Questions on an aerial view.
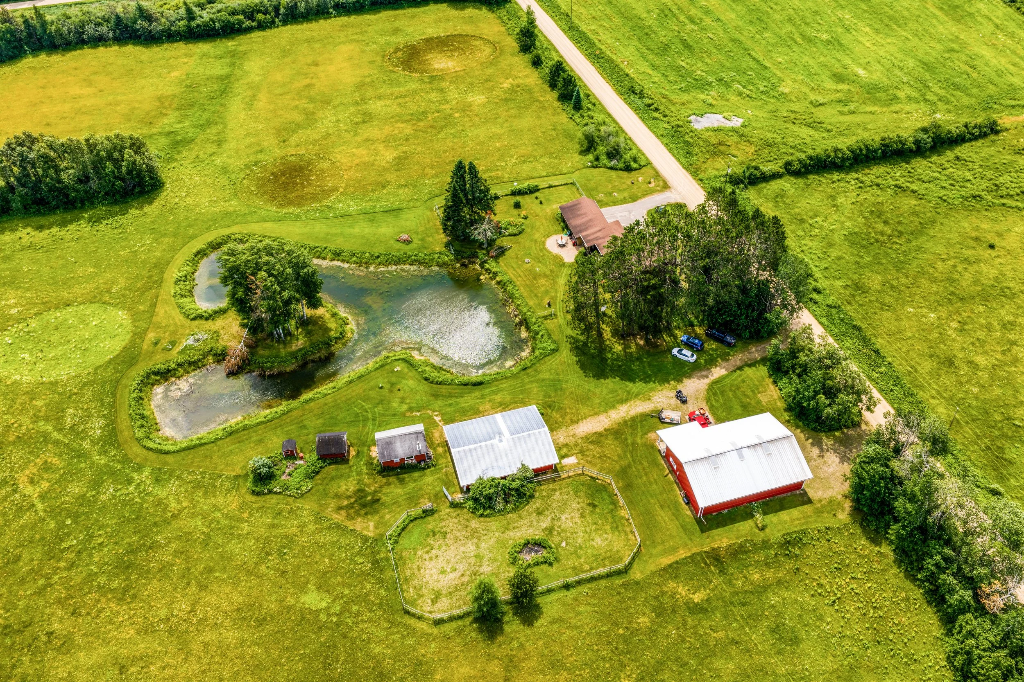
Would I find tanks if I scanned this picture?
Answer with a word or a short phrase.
No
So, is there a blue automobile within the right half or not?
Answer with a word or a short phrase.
Yes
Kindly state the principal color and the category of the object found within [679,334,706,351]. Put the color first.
blue car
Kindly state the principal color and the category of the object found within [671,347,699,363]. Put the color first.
white car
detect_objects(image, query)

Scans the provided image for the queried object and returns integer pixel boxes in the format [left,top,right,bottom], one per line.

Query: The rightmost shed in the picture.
[652,413,812,525]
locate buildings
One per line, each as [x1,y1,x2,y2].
[282,438,297,458]
[316,432,349,461]
[439,405,559,493]
[558,196,627,254]
[374,424,429,468]
[652,413,812,525]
